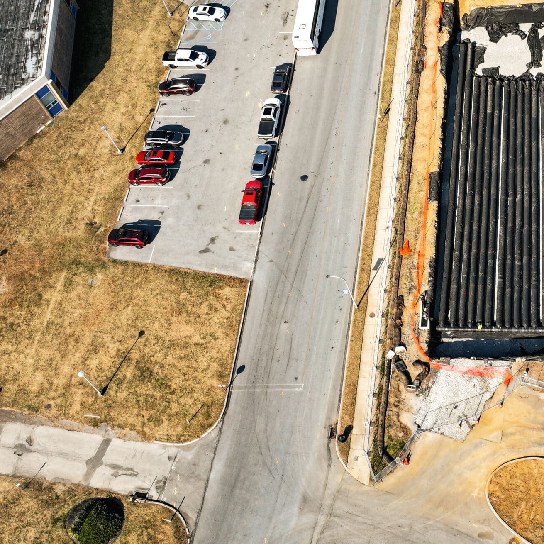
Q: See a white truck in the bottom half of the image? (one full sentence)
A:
No, I can find no white truck in the bottom half of the image.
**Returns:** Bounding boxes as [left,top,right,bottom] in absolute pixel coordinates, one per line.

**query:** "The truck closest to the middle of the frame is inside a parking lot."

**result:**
[237,179,265,225]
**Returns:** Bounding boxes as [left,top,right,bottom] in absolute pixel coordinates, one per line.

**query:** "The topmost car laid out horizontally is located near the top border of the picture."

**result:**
[187,5,229,22]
